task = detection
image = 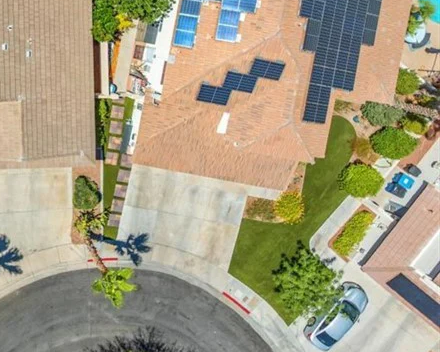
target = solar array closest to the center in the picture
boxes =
[197,58,286,106]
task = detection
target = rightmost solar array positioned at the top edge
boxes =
[299,0,385,123]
